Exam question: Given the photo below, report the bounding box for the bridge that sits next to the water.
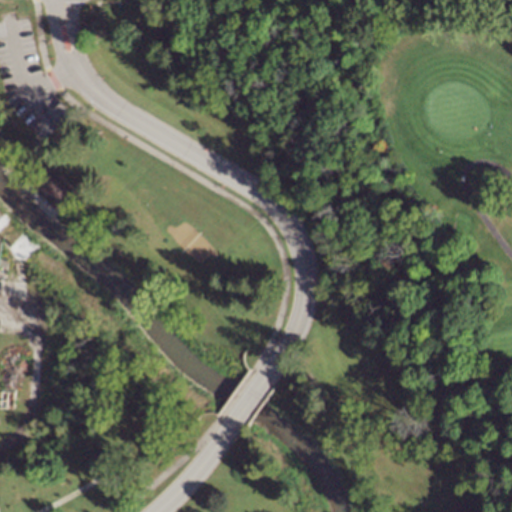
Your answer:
[200,350,278,432]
